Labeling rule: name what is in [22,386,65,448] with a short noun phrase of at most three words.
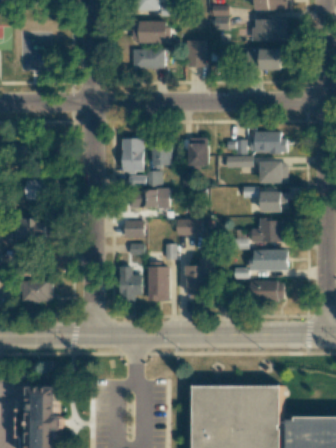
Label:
building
